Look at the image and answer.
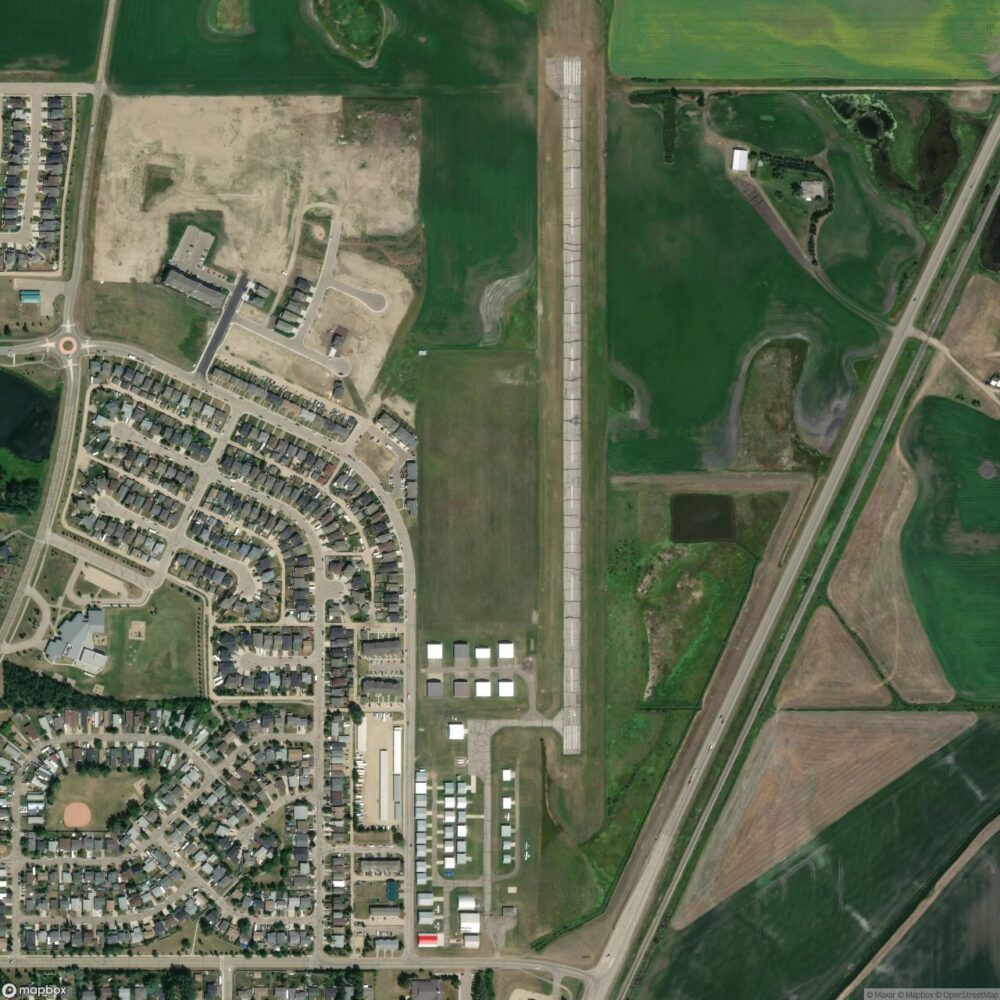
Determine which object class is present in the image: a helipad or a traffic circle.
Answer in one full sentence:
Visible in the photo is a traffic circle.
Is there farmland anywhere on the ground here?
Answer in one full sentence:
Yes, there is farmland in the image.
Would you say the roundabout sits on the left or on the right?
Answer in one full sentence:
You can find the roundabout on the left side of the picture.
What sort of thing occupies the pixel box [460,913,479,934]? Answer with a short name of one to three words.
hangar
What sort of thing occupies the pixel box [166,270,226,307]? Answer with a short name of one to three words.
building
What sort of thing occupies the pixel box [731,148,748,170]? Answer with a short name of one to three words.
barn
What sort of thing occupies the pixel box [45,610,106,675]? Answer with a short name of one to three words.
building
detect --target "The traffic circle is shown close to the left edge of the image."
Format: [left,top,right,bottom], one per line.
[41,320,94,390]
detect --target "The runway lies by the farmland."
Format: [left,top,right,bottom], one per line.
[546,57,580,754]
